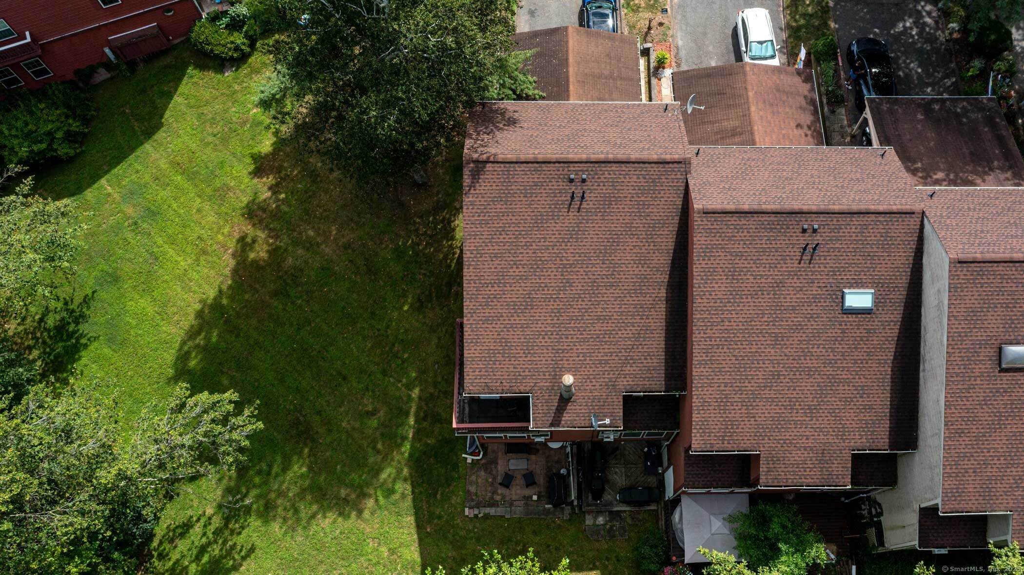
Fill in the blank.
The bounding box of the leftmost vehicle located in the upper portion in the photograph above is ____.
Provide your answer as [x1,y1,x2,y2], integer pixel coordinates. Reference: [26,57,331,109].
[578,0,622,35]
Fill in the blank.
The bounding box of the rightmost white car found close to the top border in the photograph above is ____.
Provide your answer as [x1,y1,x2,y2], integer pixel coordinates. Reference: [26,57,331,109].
[734,6,784,66]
